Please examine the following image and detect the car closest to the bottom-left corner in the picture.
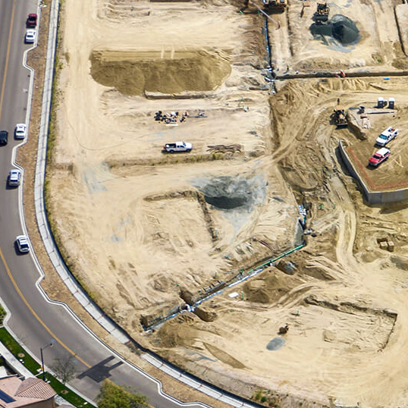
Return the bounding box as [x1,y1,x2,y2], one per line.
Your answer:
[15,237,30,253]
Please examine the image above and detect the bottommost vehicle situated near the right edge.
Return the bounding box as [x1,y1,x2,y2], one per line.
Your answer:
[367,147,392,165]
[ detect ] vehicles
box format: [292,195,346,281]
[15,237,30,253]
[367,147,392,165]
[26,31,35,42]
[9,170,20,185]
[375,129,398,145]
[316,0,327,22]
[165,141,192,152]
[333,102,349,128]
[0,129,8,146]
[27,15,36,26]
[16,126,25,139]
